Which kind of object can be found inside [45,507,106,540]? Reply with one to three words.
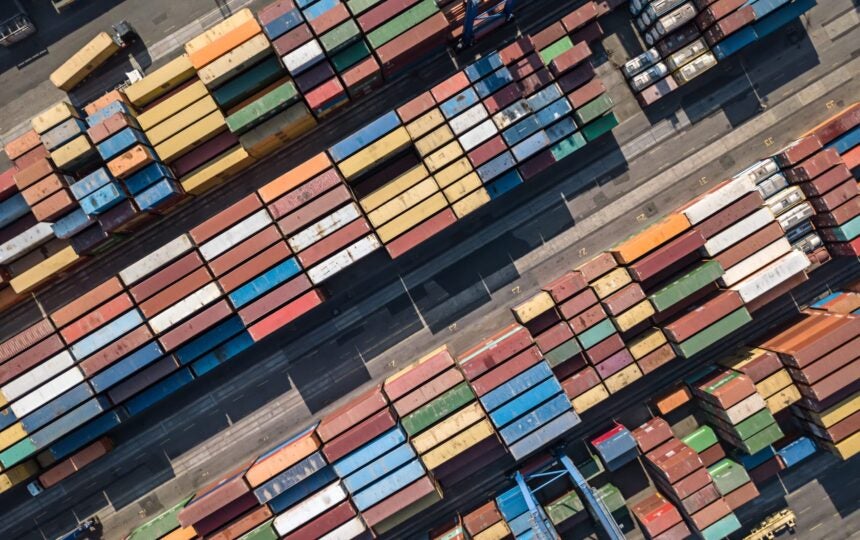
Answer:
truck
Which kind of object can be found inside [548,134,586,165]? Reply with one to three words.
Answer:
shipping container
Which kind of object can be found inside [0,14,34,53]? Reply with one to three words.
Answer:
trailer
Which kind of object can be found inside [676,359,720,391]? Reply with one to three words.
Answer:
shipping container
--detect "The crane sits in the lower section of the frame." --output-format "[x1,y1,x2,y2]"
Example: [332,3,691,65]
[499,436,634,540]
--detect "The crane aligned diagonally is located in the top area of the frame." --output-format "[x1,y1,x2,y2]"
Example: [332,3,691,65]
[450,0,524,53]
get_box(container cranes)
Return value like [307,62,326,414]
[450,0,524,53]
[499,436,634,540]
